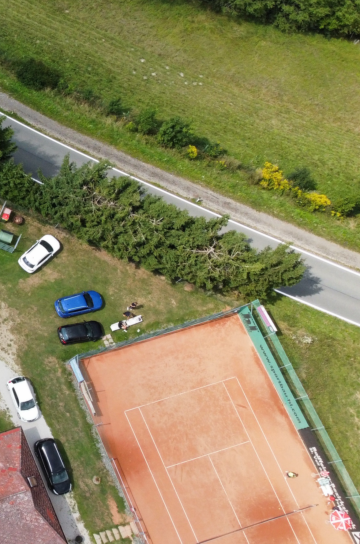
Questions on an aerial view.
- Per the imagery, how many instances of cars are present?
5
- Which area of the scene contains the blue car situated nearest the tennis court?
left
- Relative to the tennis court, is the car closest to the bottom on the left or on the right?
left of it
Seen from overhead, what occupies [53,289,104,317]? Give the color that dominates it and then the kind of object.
blue car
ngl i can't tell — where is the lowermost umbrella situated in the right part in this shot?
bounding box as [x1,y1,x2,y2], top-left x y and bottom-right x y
[324,509,353,534]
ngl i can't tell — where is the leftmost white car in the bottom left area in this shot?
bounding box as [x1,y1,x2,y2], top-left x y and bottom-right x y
[6,374,39,424]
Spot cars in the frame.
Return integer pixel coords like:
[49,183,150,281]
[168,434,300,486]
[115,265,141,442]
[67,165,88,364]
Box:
[56,319,105,347]
[53,289,104,317]
[6,374,39,424]
[36,438,72,495]
[19,233,59,276]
